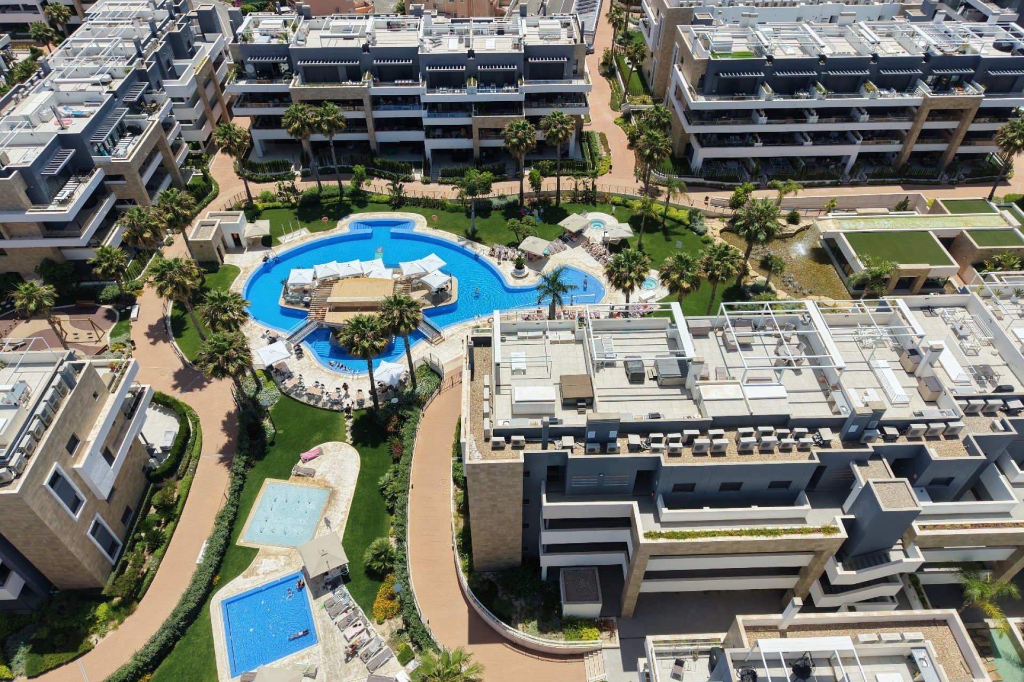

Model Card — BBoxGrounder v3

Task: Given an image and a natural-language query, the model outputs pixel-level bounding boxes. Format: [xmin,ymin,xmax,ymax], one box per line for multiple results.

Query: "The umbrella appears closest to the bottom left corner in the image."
[254,649,305,682]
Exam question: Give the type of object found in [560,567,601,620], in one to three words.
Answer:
building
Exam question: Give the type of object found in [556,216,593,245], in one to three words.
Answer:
umbrella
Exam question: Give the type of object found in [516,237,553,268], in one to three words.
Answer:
umbrella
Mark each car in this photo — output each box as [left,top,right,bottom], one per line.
[585,40,602,52]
